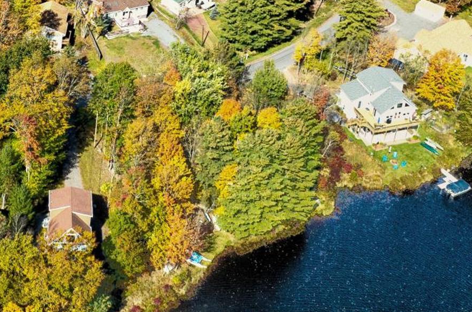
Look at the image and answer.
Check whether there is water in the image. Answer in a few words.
Yes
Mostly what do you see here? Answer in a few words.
trees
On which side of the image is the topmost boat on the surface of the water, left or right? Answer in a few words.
right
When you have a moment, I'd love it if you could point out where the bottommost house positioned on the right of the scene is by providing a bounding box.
[336,62,428,153]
